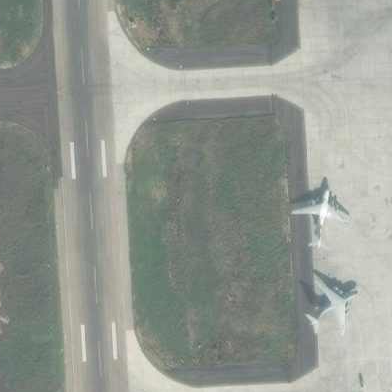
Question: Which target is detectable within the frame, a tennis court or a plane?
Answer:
plane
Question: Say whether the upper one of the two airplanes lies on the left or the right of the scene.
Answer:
right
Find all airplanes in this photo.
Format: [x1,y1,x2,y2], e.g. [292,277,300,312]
[292,189,353,247]
[302,279,356,334]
